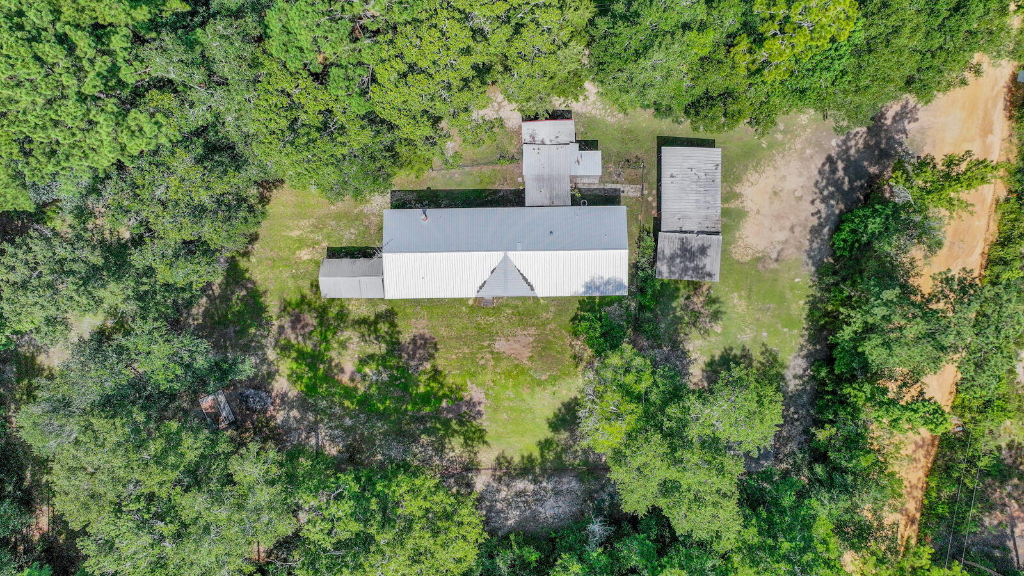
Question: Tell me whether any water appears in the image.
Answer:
No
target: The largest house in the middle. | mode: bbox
[381,205,630,300]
